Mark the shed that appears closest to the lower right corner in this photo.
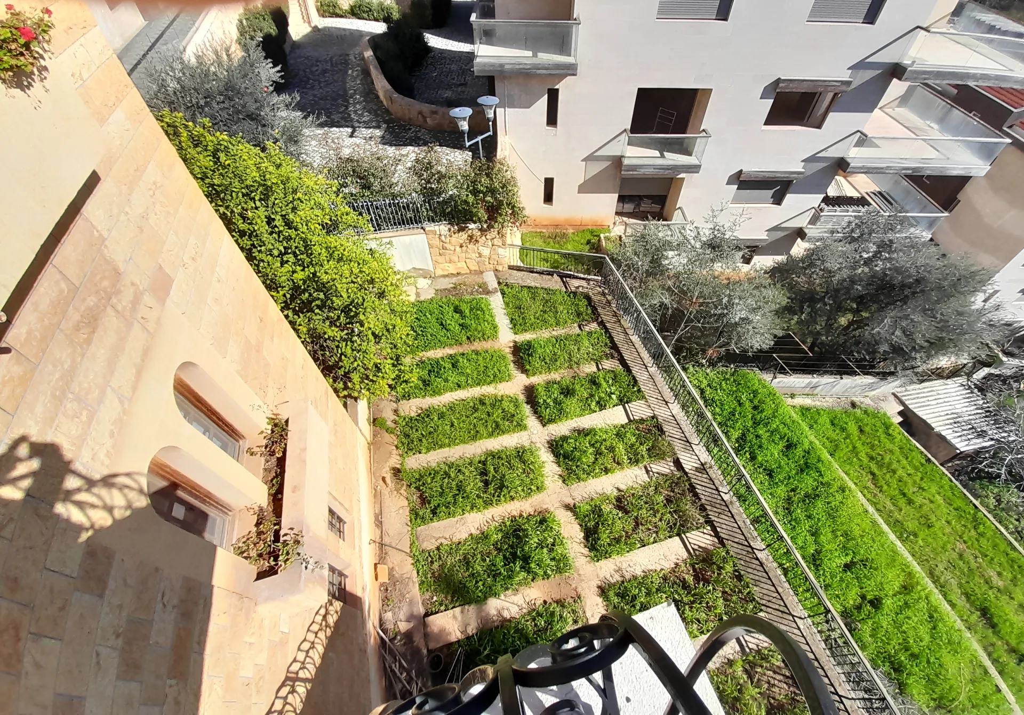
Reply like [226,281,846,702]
[876,375,1004,464]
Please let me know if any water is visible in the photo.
No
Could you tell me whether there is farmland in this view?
No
